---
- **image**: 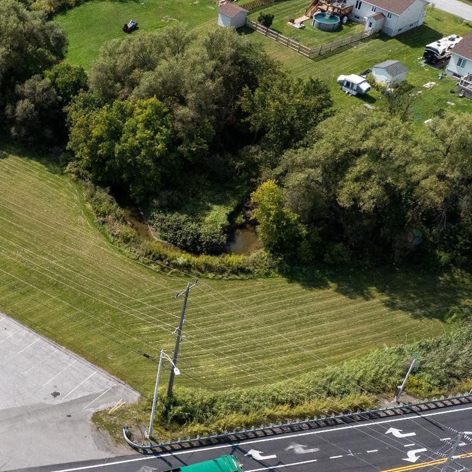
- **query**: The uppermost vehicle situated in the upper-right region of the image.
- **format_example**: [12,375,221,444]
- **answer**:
[424,34,462,70]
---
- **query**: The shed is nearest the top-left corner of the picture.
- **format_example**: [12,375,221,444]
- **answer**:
[218,3,248,26]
